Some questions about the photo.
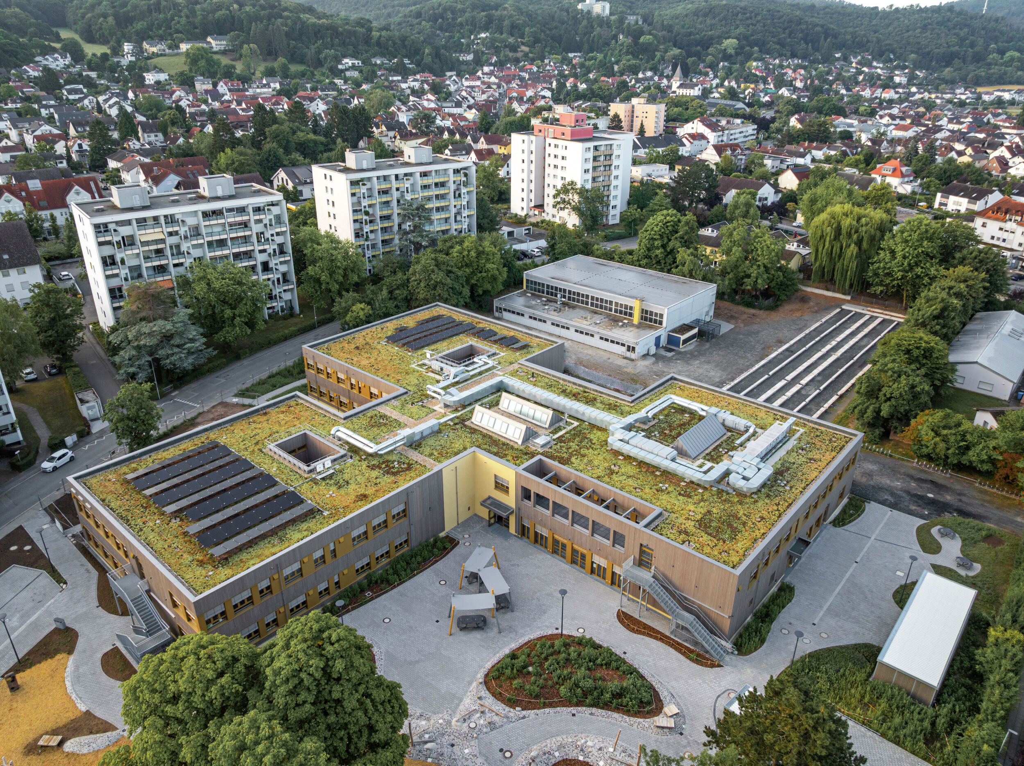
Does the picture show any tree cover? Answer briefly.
Yes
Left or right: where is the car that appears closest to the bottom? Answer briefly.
left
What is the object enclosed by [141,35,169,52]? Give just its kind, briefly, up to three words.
house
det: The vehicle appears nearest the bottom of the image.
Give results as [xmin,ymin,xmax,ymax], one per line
[37,449,77,471]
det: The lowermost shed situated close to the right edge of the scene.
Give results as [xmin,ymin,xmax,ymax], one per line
[874,571,977,707]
